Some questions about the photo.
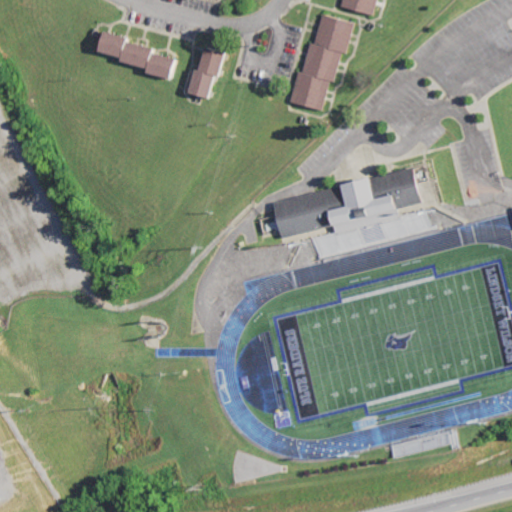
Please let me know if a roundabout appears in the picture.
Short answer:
No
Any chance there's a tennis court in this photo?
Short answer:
No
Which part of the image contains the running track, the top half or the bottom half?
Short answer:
bottom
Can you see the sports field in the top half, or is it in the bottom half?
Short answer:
bottom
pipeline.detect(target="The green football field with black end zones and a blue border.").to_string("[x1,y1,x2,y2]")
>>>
[272,258,512,424]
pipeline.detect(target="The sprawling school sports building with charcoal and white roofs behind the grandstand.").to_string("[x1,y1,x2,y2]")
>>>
[274,170,430,237]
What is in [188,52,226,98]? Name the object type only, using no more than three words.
house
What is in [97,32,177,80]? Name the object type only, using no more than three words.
house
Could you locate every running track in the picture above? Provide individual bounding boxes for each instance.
[216,222,512,460]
